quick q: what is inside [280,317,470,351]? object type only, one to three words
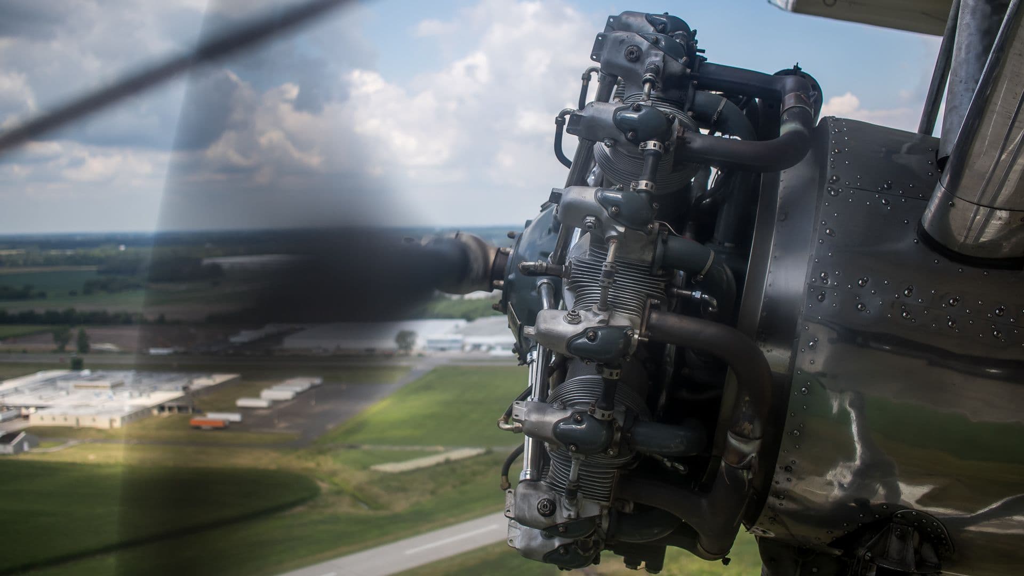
building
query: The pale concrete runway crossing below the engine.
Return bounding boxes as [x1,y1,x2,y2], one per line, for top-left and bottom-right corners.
[265,512,513,576]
